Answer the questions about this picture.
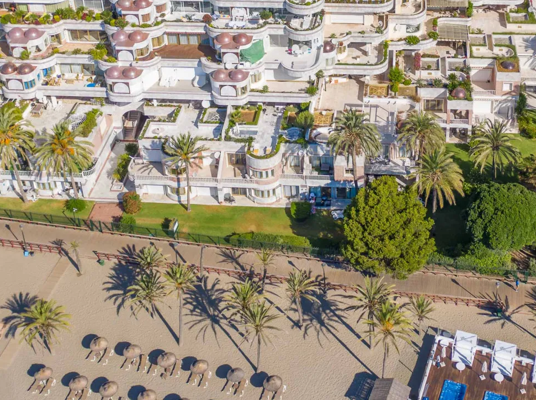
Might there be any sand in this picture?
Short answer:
Yes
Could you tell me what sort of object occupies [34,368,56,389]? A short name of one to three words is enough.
umbrella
